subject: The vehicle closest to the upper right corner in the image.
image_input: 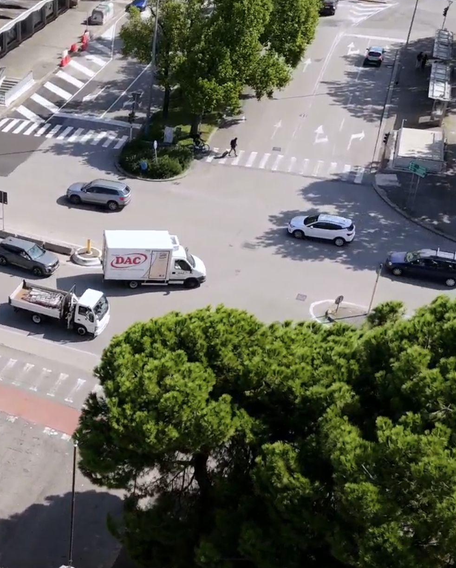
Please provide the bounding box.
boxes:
[365,42,390,65]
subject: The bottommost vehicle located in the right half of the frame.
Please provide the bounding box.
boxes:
[385,246,456,283]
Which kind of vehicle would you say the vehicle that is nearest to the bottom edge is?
truck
